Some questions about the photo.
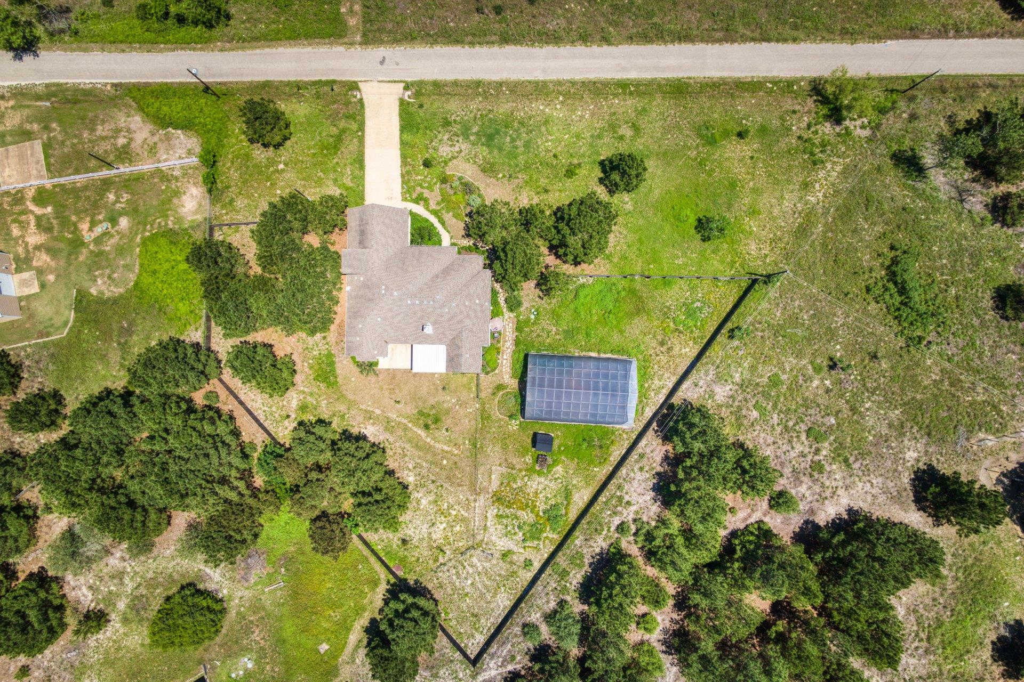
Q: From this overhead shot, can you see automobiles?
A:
No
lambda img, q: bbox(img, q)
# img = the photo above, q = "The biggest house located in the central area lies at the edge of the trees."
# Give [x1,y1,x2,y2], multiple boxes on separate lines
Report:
[341,202,491,373]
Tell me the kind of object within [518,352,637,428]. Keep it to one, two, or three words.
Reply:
house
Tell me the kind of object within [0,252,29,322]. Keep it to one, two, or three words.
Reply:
house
